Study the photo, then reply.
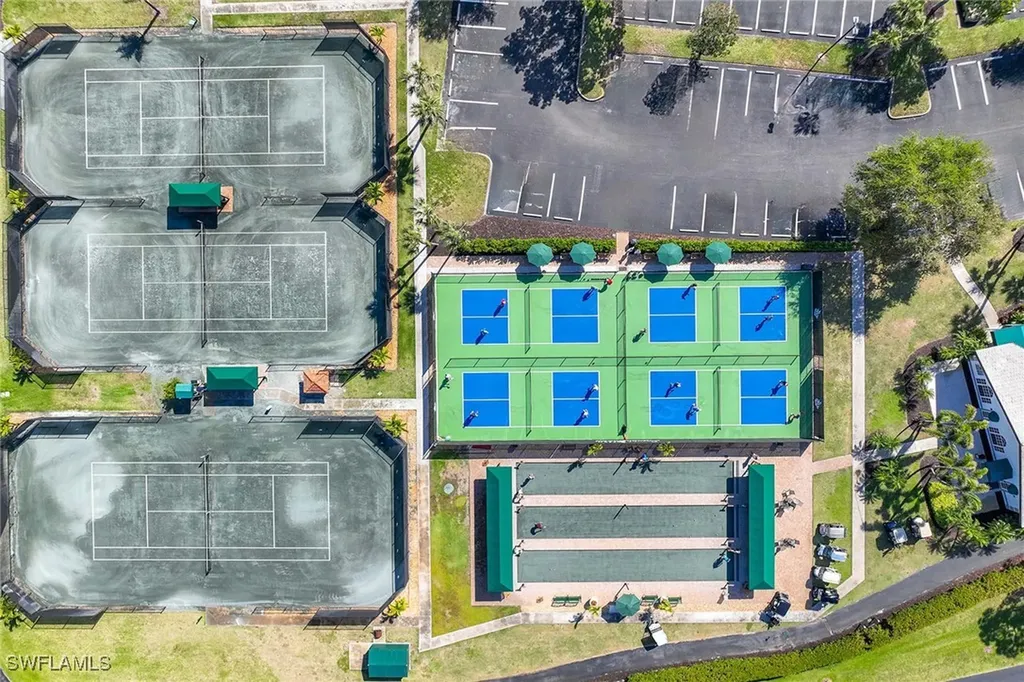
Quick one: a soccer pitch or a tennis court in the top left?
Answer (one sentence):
What appears in the top left is a tennis court.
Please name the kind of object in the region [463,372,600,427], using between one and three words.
sports court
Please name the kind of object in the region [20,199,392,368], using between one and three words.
tennis court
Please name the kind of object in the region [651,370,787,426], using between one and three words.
sports court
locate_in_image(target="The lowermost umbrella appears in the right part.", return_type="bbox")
[615,591,641,617]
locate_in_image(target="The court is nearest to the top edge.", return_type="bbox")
[18,31,390,202]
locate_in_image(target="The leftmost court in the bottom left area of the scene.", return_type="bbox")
[8,416,408,609]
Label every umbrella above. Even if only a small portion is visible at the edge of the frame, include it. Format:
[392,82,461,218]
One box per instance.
[527,242,553,268]
[657,241,682,267]
[569,240,596,267]
[705,239,731,266]
[615,591,641,617]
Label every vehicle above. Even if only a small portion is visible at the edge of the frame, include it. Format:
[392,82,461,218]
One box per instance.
[769,586,790,616]
[645,613,666,644]
[882,516,907,544]
[907,511,932,539]
[810,563,840,585]
[810,584,840,603]
[817,543,847,563]
[816,521,845,537]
